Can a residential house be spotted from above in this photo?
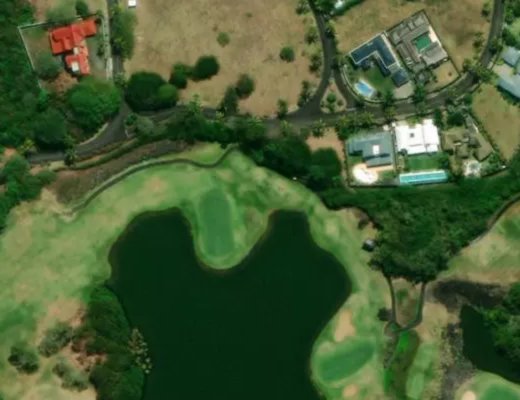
Yes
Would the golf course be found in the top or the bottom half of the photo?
bottom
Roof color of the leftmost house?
red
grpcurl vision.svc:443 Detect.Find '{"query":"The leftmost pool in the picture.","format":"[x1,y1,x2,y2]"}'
[351,80,375,97]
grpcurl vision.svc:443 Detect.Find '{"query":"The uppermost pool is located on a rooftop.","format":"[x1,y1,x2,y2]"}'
[413,32,432,51]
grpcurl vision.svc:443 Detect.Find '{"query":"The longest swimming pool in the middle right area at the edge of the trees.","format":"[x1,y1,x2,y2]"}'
[400,170,447,185]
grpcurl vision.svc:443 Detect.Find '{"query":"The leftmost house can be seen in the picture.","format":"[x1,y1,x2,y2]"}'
[48,18,98,75]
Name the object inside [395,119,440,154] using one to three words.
house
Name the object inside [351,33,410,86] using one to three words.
house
